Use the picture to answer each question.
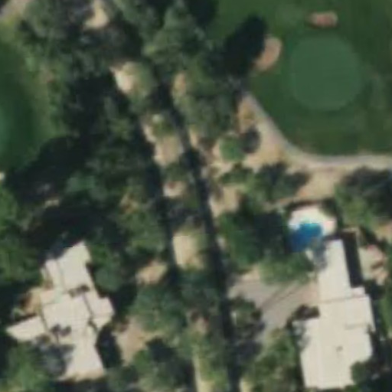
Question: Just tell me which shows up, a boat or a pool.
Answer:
pool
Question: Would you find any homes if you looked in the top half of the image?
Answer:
No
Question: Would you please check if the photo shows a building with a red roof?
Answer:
No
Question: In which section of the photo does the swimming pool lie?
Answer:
right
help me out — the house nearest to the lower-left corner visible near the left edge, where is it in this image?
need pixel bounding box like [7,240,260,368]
[7,240,115,380]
